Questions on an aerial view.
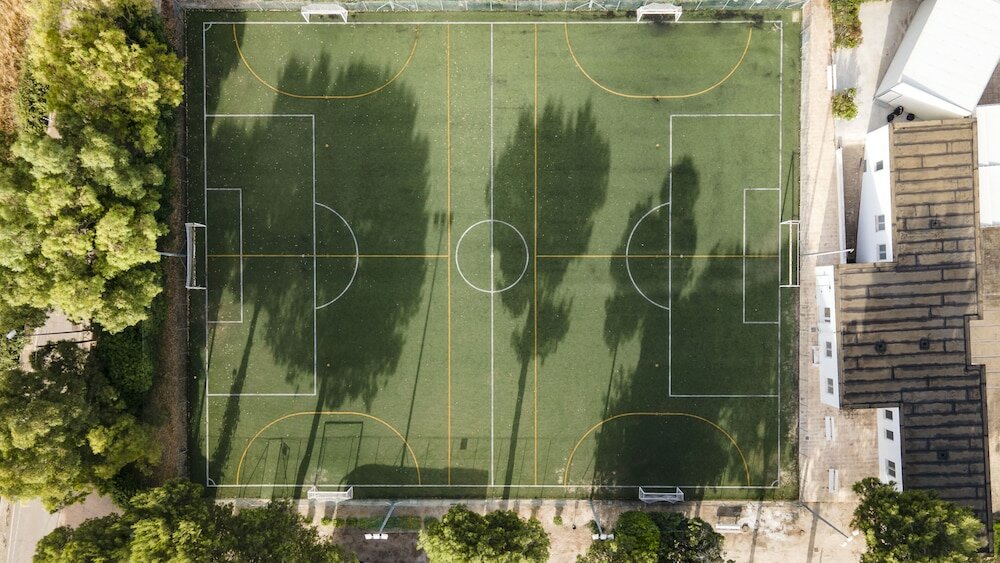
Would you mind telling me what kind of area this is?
sports ground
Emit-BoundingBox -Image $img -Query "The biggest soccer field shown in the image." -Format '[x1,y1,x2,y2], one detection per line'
[186,10,805,501]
